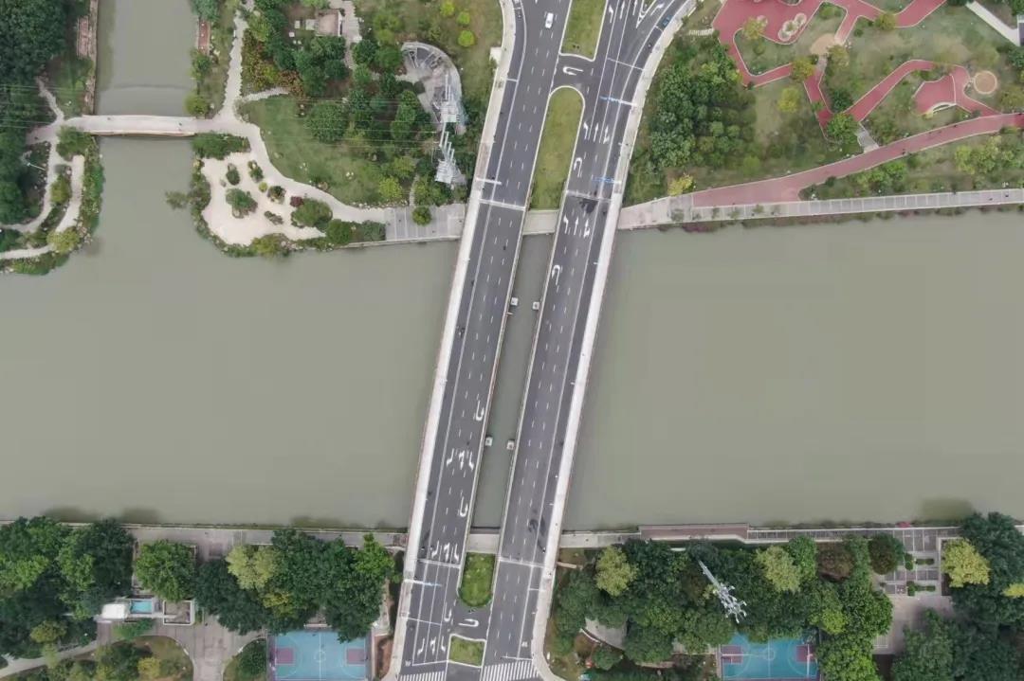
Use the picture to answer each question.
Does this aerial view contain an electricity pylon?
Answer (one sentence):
Yes, the photo shows an electricity pylon.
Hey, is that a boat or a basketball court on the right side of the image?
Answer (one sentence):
The one visible on the right side of the image is a basketball court.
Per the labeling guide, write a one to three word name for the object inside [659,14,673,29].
car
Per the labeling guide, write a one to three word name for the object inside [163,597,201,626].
building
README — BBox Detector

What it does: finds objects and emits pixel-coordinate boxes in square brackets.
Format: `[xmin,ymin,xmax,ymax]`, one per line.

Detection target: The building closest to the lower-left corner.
[97,599,134,623]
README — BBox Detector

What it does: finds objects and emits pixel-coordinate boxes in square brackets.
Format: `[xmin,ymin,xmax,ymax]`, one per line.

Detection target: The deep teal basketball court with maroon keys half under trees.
[720,627,822,681]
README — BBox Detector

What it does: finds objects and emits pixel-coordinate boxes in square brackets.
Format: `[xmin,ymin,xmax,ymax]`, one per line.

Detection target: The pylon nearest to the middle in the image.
[435,122,470,188]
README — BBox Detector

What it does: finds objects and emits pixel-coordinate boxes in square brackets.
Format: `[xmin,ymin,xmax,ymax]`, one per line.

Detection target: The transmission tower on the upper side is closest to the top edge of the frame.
[440,74,469,140]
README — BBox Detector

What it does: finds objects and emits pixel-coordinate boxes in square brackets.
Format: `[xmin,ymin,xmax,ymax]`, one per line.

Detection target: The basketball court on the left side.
[268,626,370,681]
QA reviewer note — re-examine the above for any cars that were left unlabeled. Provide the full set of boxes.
[659,14,673,29]
[544,11,553,27]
